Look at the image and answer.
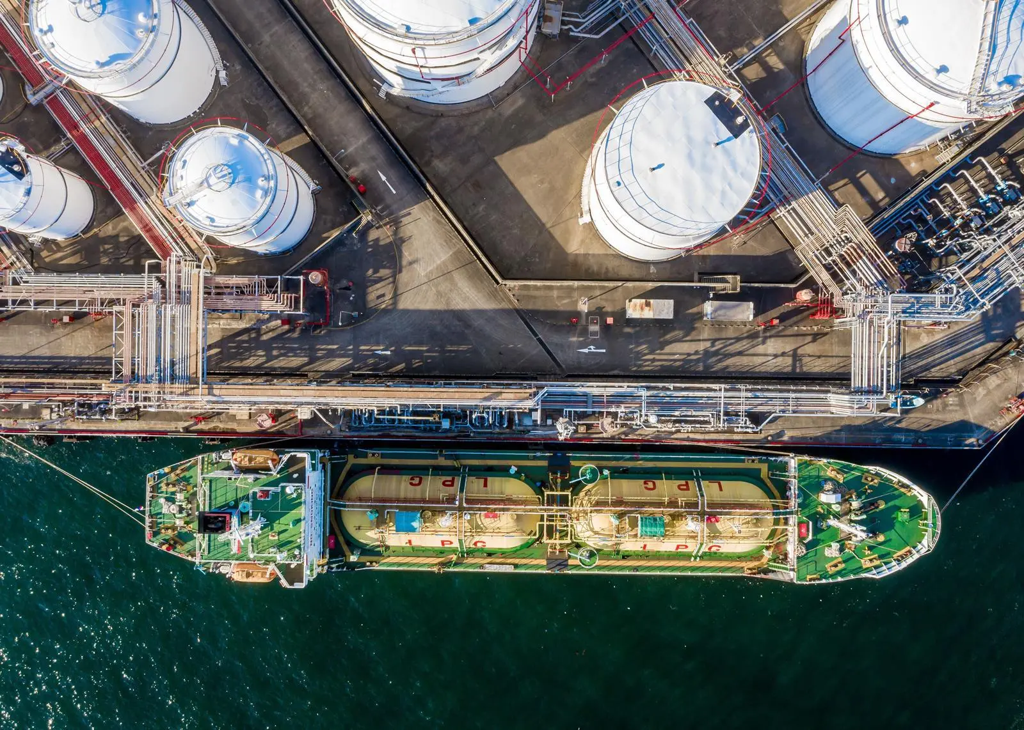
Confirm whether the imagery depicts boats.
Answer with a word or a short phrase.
Yes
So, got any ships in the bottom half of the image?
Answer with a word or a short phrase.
Yes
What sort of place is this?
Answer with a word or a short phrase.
industrial area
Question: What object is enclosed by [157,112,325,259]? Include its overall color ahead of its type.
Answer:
white storage tank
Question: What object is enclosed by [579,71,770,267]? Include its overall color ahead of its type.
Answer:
white storage tank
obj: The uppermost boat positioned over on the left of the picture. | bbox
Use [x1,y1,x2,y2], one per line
[230,449,282,469]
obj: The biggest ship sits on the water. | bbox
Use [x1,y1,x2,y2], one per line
[137,449,946,589]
